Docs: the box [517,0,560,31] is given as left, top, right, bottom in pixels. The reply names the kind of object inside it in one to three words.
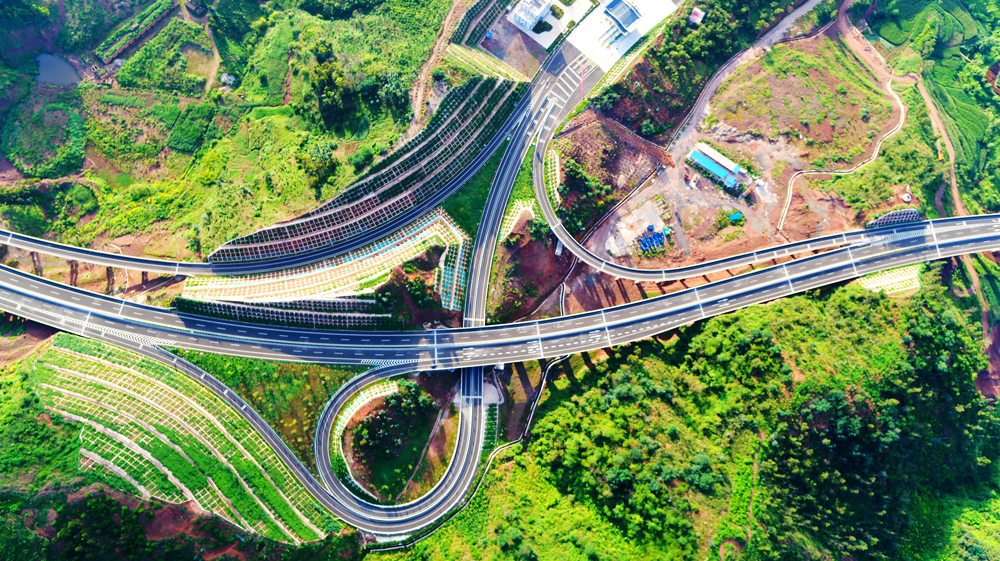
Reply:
building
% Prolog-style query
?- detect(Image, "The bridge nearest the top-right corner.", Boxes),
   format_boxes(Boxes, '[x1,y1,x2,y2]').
[930,213,1000,256]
